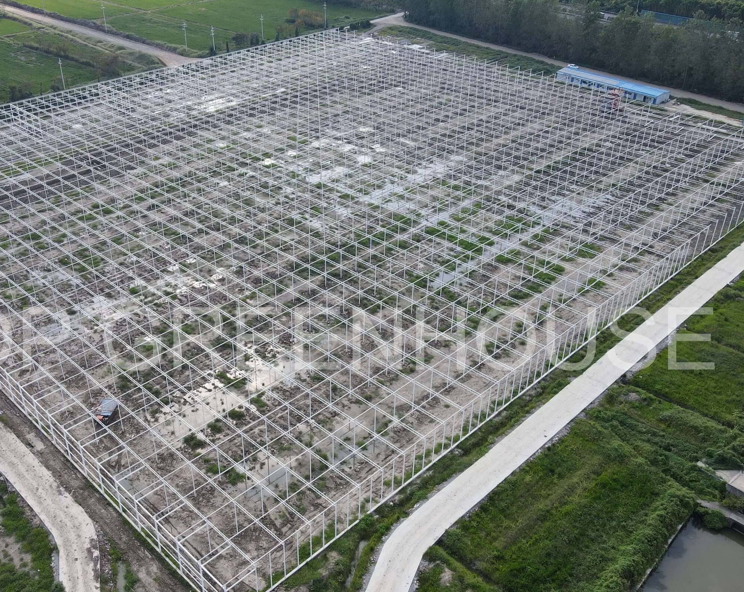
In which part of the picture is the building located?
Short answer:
top right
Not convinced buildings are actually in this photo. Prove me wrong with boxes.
[553,67,673,105]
